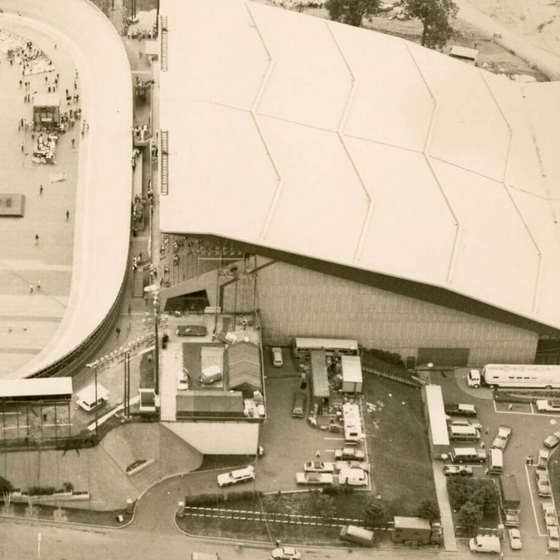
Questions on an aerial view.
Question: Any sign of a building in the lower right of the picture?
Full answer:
No, there's no building to be seen in the lower right of the picture.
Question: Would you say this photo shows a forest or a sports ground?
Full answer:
It's a sports ground.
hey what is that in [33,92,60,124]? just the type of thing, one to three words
building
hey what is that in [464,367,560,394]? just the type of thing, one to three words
truck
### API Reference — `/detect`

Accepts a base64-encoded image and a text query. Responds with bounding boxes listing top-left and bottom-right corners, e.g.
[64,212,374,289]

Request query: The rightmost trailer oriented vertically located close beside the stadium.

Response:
[424,380,453,465]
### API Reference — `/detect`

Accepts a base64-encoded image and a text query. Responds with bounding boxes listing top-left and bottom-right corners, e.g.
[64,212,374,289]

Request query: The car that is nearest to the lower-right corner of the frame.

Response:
[547,524,560,548]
